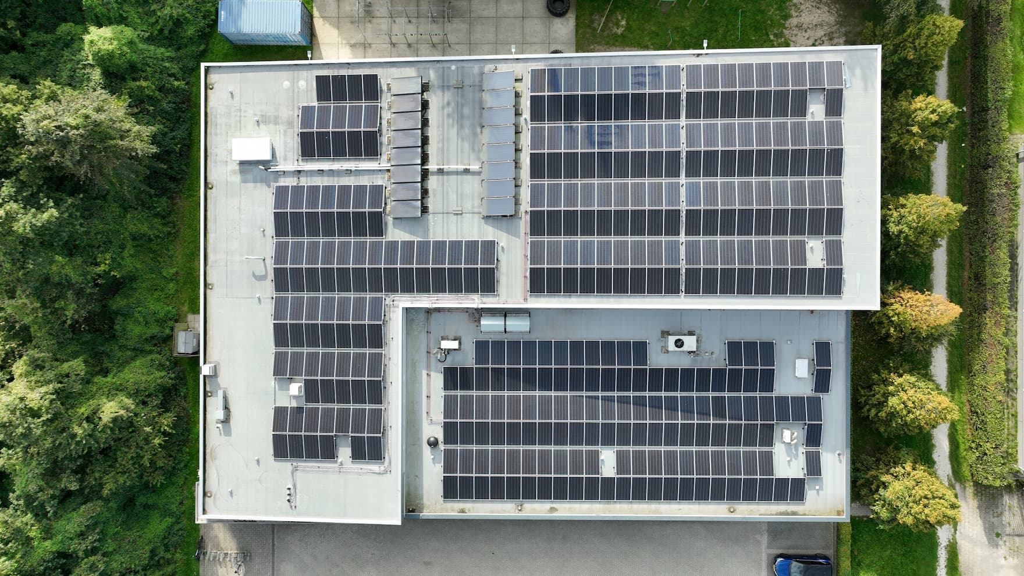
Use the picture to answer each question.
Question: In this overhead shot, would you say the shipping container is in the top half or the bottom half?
top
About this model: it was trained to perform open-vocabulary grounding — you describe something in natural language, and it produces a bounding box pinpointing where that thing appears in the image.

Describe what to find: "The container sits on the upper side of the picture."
[218,0,311,45]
